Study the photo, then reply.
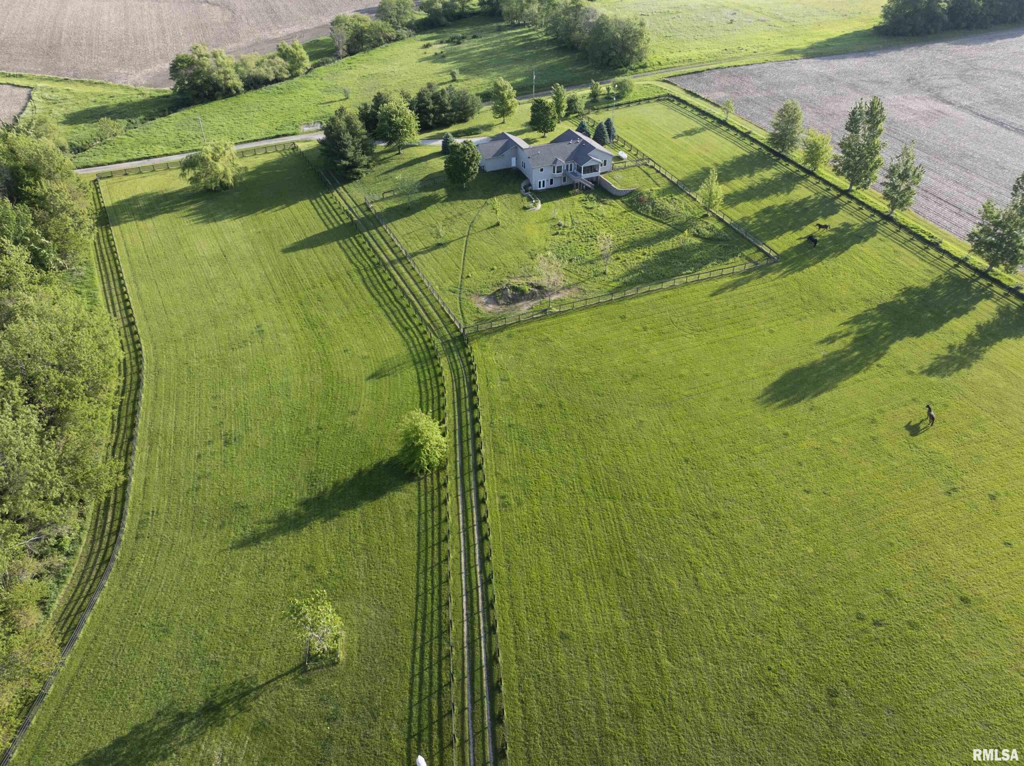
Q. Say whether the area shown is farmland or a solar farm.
farmland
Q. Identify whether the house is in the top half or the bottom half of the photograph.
top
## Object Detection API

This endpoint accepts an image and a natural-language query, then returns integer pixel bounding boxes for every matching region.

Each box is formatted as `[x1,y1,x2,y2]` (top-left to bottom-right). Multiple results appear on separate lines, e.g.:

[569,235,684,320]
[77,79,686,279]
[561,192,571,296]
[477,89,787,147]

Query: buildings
[474,129,615,190]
